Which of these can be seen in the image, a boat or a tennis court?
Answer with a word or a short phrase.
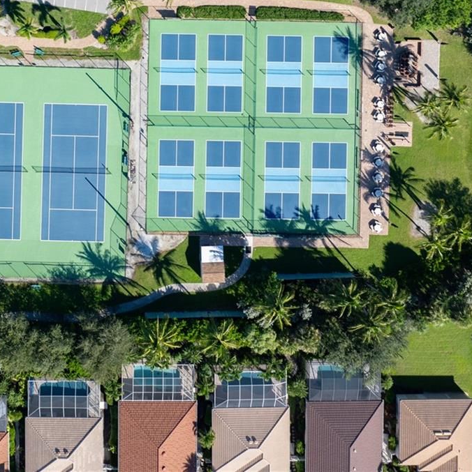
tennis court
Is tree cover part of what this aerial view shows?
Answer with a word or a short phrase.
Yes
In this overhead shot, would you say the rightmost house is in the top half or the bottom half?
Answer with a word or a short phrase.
bottom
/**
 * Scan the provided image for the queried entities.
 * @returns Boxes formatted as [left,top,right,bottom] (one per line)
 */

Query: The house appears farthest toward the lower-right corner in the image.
[396,394,472,472]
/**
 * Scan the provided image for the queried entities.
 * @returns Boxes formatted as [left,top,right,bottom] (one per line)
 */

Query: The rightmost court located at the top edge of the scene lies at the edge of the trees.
[306,22,362,128]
